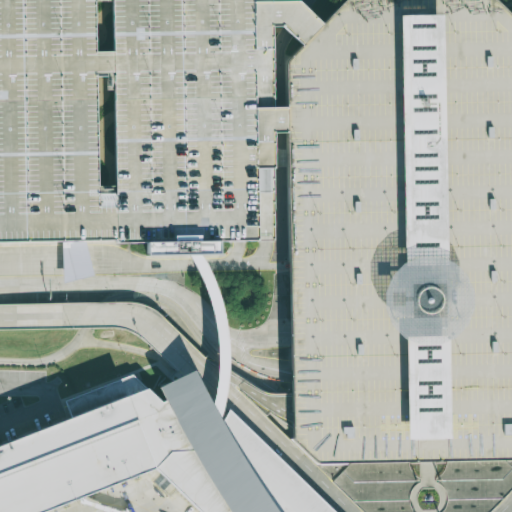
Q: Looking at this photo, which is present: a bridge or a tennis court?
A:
bridge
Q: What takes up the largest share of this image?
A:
buildings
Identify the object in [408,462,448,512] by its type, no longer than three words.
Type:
roundabout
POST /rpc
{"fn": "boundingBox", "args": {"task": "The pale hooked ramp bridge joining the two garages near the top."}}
[258,1,326,98]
